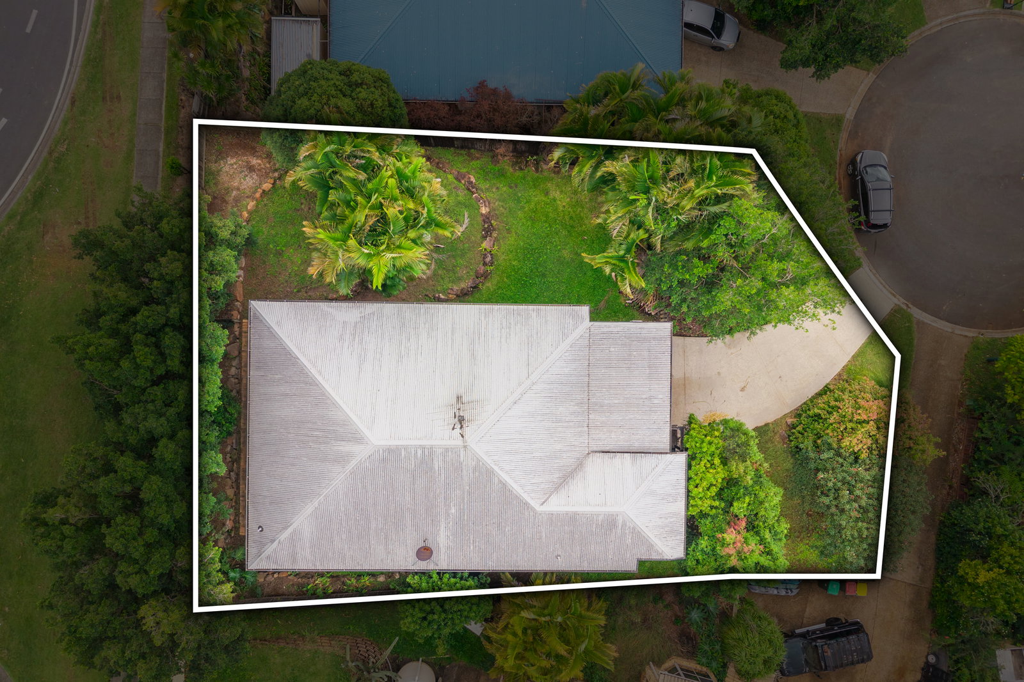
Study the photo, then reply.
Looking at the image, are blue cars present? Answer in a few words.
No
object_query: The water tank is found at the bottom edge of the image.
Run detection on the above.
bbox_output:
[399,654,438,682]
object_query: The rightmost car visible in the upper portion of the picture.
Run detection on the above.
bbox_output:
[849,151,896,234]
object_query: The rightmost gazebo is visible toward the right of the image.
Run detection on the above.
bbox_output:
[649,643,714,682]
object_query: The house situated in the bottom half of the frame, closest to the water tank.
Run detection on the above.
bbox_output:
[246,300,690,573]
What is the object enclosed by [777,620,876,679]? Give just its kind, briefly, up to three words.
car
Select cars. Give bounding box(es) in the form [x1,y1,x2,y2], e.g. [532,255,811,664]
[685,1,734,48]
[777,620,876,679]
[849,151,896,234]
